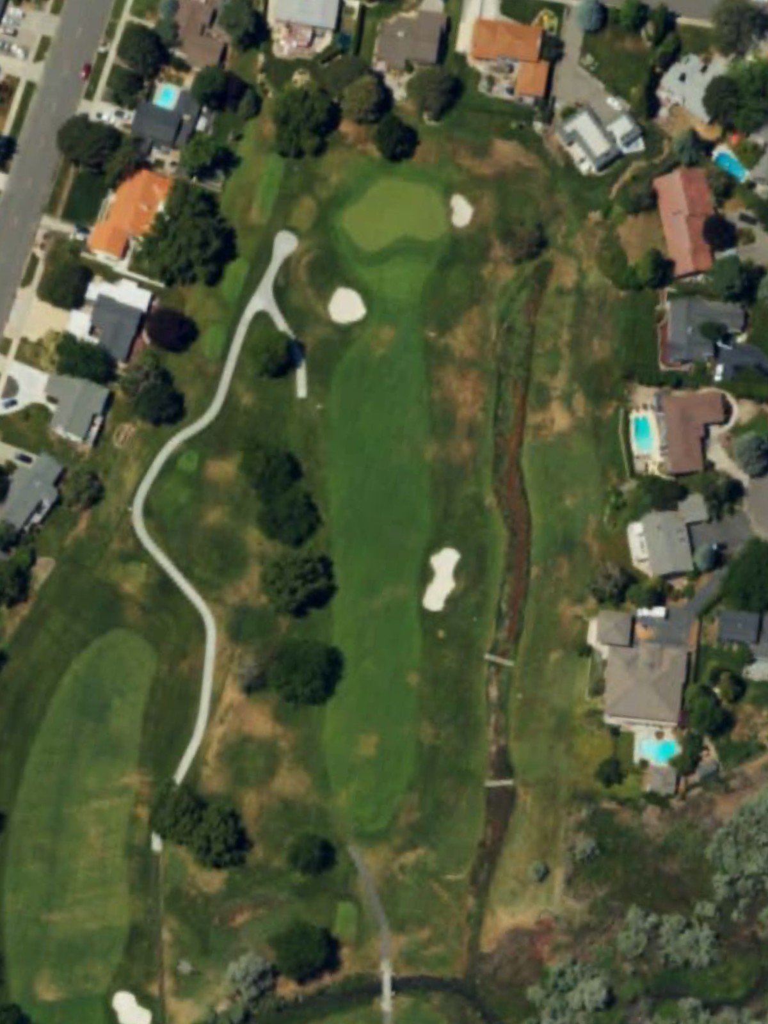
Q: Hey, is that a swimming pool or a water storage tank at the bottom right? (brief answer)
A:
swimming pool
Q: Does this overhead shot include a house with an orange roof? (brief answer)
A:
Yes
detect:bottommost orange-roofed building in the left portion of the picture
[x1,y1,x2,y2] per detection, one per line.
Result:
[89,169,175,257]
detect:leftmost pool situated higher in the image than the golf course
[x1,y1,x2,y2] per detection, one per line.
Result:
[156,83,176,111]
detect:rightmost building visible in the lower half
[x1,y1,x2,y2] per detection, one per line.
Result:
[719,612,768,654]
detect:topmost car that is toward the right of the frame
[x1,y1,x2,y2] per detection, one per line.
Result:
[607,95,621,109]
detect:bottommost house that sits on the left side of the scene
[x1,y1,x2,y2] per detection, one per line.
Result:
[0,446,72,535]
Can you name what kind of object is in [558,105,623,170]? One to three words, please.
house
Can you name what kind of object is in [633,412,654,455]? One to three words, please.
swimming pool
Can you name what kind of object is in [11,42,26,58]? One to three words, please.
vehicle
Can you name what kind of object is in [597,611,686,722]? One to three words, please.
house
